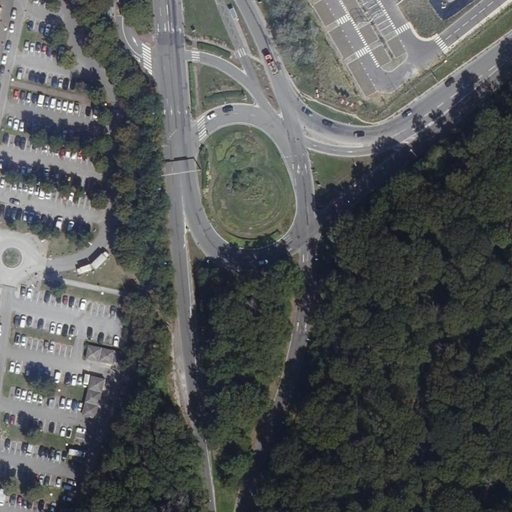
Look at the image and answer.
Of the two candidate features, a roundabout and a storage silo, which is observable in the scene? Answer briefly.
roundabout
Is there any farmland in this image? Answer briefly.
No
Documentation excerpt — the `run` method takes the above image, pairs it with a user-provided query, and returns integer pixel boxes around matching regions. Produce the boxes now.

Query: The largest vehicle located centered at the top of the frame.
[263,52,278,74]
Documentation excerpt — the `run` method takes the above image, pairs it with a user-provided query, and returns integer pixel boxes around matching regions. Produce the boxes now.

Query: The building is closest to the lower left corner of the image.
[82,376,105,419]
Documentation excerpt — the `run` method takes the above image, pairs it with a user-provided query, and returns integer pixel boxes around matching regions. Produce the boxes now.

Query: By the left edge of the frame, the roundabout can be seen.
[0,230,48,288]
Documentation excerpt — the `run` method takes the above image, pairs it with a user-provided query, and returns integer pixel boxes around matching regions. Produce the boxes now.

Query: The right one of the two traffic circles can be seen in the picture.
[182,103,314,270]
